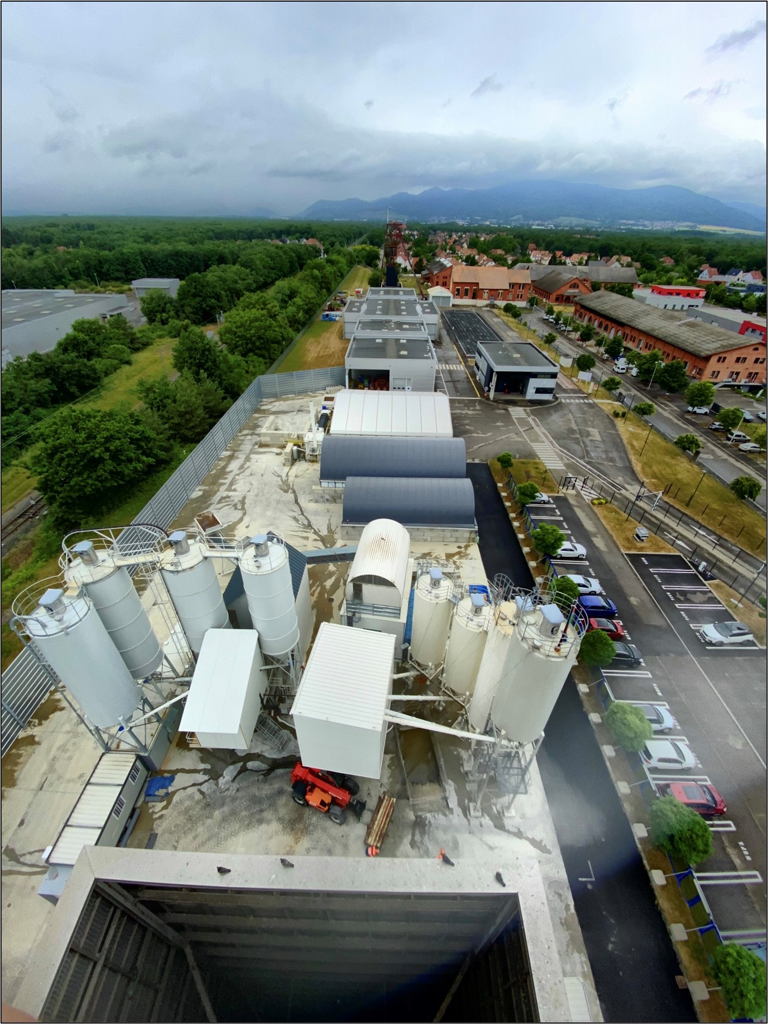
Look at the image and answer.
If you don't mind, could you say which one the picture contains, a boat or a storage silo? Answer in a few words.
storage silo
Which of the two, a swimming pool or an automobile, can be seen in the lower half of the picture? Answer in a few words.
automobile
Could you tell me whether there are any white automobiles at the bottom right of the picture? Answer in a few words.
Yes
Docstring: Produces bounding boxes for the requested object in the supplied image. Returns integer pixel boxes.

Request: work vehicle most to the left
[286,756,358,821]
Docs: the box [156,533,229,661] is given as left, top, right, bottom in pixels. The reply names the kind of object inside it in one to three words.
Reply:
silo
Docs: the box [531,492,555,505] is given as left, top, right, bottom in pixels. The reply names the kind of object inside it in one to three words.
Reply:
vehicle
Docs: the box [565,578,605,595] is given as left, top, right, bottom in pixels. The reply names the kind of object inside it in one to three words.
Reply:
car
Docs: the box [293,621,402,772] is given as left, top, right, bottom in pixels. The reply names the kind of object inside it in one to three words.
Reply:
shed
